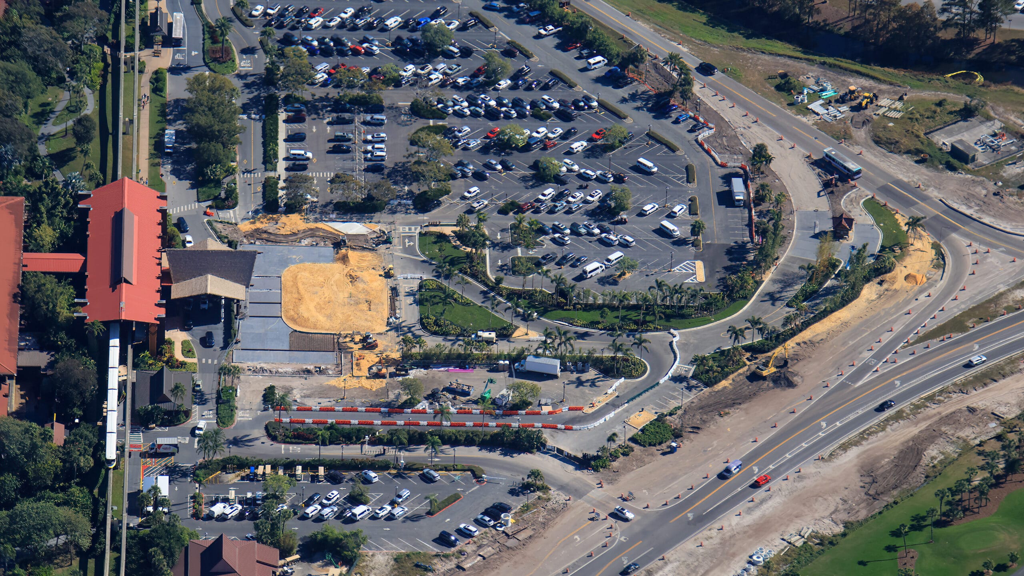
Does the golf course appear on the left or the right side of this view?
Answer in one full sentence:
It is on the right.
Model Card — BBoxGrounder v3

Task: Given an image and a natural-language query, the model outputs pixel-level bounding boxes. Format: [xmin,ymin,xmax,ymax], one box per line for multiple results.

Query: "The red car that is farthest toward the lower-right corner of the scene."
[754,475,772,488]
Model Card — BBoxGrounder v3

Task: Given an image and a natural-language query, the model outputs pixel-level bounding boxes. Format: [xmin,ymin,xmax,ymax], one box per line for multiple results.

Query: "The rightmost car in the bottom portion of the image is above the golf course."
[969,355,988,367]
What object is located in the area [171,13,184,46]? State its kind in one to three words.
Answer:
vehicle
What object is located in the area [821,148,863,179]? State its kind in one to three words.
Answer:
bus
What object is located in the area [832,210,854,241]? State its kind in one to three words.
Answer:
building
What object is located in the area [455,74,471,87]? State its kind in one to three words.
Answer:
vehicle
